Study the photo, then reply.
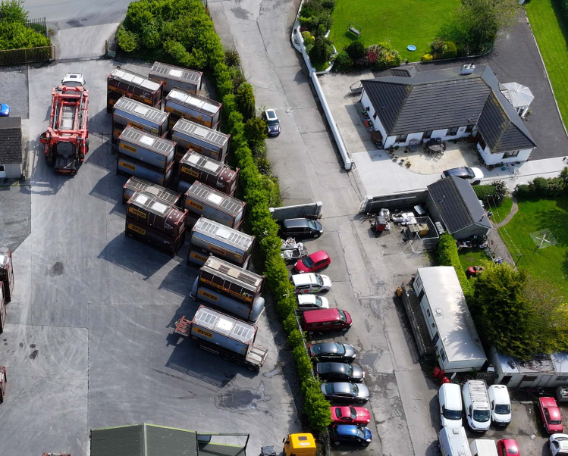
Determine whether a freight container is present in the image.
Yes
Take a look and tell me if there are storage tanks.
Yes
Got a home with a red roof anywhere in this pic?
No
